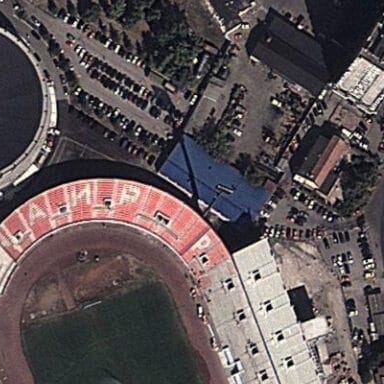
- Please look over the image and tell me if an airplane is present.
No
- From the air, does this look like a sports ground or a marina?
sports ground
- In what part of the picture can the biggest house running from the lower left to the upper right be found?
right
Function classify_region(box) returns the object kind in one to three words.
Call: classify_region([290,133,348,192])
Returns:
house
